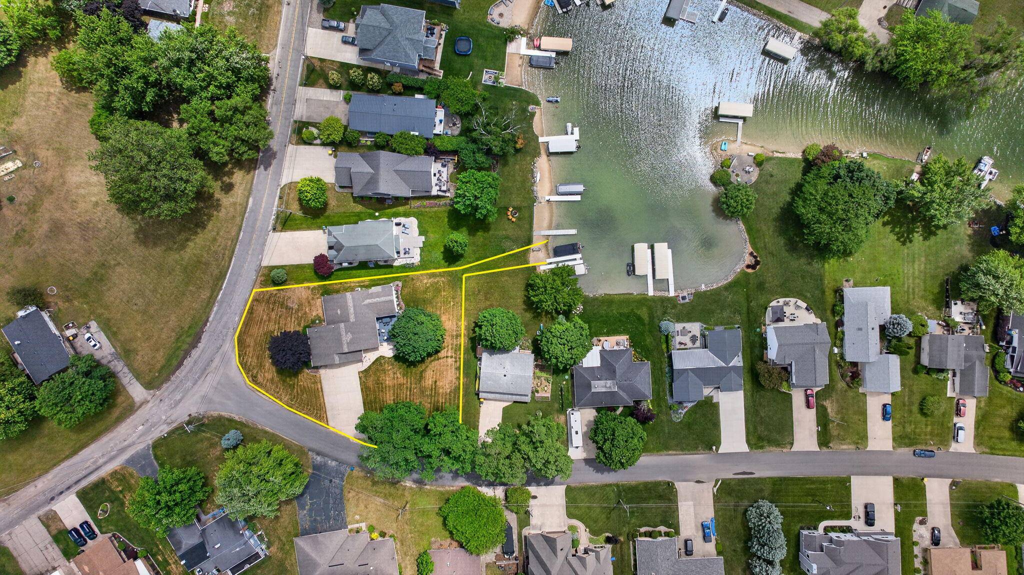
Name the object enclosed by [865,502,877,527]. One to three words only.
vehicle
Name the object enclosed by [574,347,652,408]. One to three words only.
house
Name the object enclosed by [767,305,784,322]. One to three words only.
gazebo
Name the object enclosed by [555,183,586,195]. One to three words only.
boat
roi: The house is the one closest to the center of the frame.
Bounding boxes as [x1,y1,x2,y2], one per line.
[479,338,534,402]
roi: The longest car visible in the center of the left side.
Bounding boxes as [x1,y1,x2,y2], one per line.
[84,331,101,351]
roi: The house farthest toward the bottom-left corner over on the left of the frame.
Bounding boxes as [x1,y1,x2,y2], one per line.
[72,536,144,575]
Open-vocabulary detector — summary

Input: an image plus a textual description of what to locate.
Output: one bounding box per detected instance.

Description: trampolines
[455,38,472,55]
